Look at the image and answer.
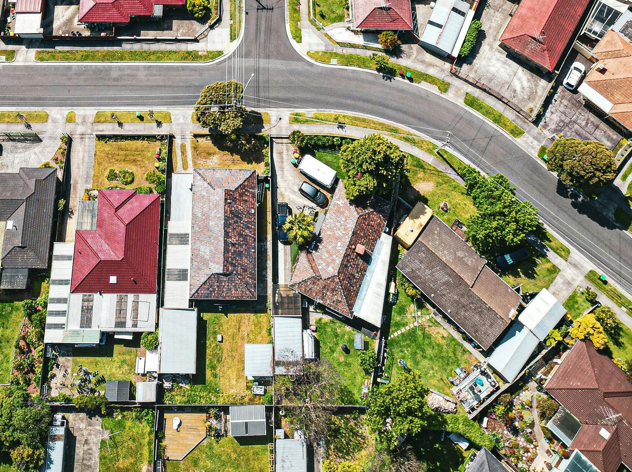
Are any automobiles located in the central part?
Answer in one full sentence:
Yes, an automobile can be seen in the central part.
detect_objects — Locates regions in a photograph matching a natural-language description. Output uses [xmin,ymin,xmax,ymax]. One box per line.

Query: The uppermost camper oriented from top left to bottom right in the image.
[299,155,338,187]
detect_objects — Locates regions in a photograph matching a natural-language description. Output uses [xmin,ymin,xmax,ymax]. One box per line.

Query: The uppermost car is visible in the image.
[563,61,586,92]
